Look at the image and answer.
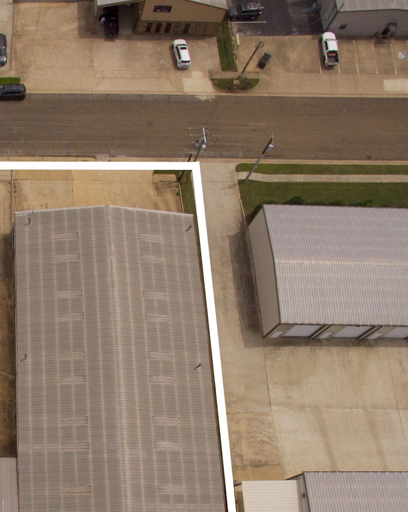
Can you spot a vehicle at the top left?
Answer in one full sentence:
Yes, the scene does show a vehicle at the top left.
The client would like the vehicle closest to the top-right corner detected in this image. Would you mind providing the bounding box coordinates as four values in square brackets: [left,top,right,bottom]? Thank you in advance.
[319,31,340,68]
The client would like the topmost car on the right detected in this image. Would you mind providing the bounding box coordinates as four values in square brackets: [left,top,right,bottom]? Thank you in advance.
[227,1,263,20]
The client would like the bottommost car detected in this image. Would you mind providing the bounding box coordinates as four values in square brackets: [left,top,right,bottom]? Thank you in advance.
[0,83,27,101]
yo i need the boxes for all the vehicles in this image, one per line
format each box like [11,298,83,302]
[227,1,263,20]
[319,31,340,68]
[172,40,191,69]
[0,83,27,101]
[0,33,8,66]
[99,5,121,37]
